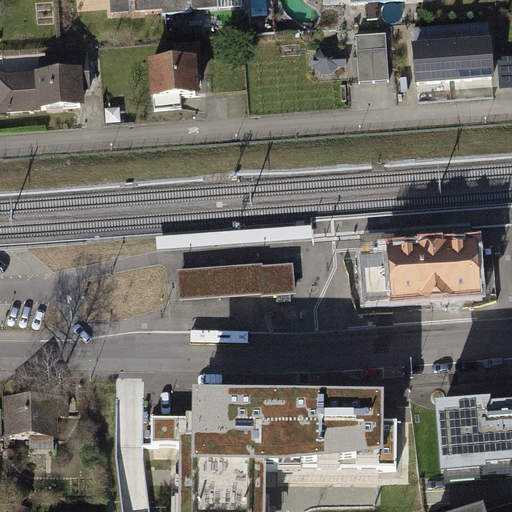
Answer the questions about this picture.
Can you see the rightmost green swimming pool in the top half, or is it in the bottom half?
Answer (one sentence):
The rightmost green swimming pool sits in the top half of the picture.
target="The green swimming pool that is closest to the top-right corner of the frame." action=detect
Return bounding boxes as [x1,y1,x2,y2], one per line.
[279,0,322,30]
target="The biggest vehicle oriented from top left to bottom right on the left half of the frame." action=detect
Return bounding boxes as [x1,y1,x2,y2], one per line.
[73,321,92,342]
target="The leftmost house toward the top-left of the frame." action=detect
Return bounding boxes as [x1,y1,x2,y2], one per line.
[0,55,90,113]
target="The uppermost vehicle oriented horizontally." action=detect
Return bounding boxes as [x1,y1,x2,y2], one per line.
[190,330,250,345]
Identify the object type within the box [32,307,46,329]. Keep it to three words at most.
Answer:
vehicle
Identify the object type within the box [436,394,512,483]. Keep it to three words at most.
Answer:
building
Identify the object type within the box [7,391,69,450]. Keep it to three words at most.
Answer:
house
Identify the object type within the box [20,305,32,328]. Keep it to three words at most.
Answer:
vehicle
